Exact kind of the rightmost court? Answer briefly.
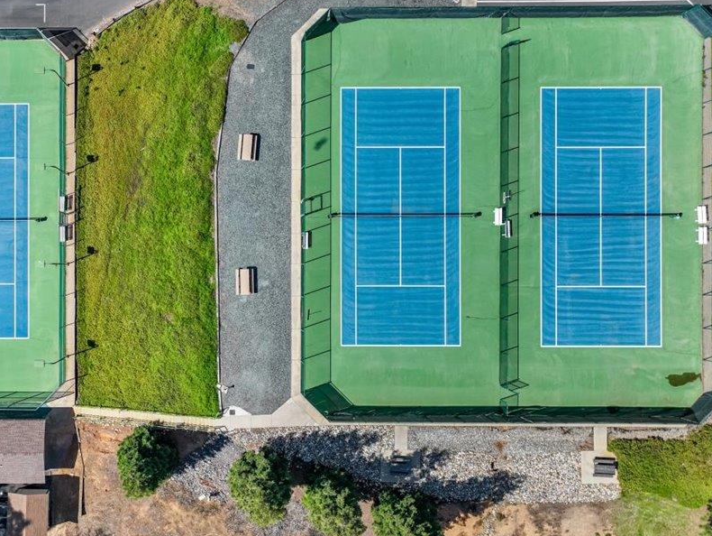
tennis court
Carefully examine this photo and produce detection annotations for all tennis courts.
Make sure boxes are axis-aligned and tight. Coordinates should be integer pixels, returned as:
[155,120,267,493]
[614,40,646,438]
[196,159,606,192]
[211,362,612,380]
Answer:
[304,20,501,413]
[501,20,702,413]
[0,41,63,400]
